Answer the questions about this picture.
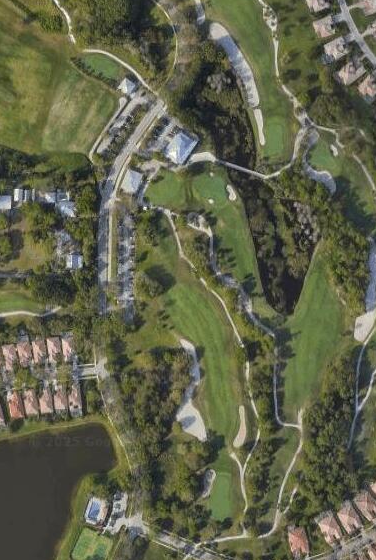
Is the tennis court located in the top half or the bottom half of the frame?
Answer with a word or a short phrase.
bottom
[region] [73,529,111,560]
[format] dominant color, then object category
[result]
green tennis court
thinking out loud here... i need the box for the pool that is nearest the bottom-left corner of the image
[86,496,108,526]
